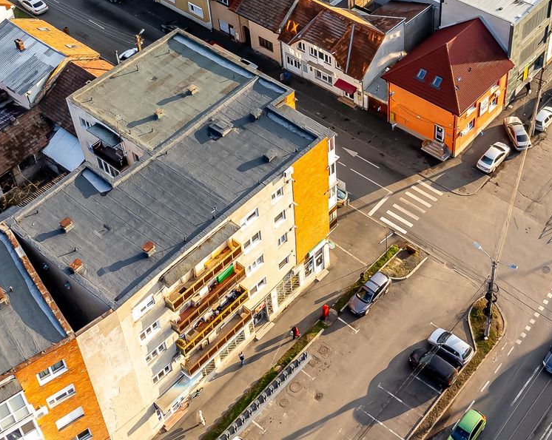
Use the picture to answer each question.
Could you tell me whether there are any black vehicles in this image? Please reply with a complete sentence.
Yes, a black vehicle can be made out from above.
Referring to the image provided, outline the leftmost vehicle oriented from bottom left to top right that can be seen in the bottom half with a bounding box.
[345,268,393,318]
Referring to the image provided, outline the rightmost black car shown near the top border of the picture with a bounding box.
[156,16,192,35]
